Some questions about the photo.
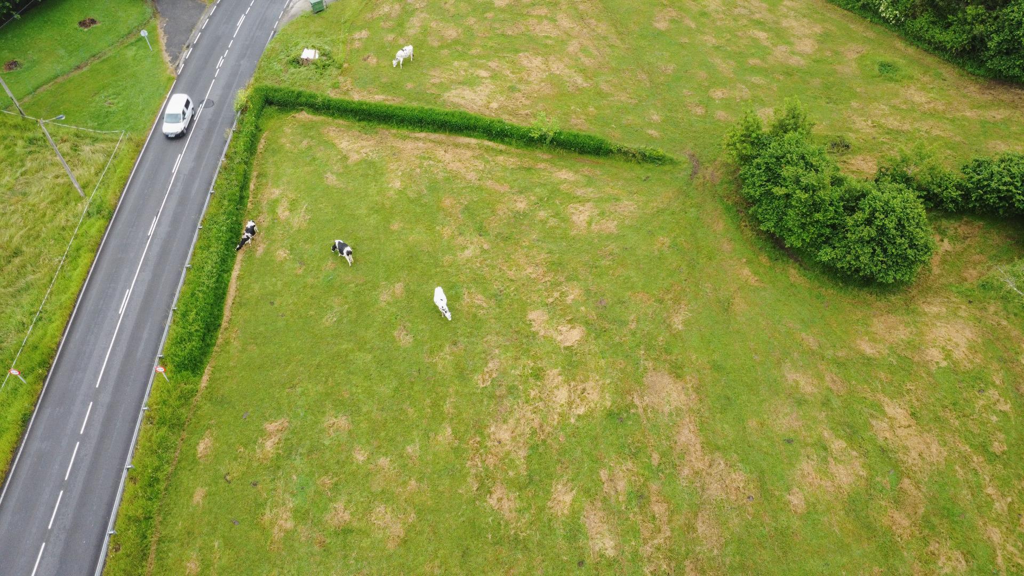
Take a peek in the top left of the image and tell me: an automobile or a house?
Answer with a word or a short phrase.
automobile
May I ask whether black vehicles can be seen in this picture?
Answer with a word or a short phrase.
No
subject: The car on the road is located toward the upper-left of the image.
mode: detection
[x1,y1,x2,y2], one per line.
[158,92,194,138]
